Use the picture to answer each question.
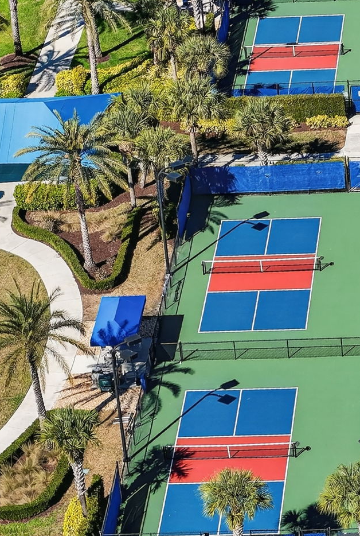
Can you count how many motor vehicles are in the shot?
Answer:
none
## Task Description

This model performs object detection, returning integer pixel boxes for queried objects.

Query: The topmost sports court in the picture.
[244,15,344,92]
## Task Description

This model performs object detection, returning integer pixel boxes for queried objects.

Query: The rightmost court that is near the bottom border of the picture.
[157,388,298,536]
